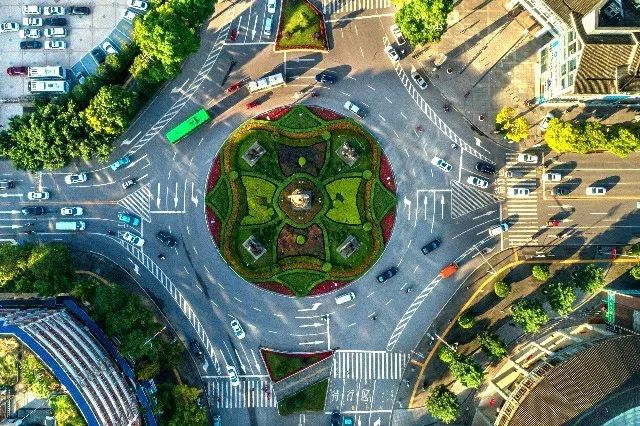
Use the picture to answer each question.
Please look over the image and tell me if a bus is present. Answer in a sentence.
Yes, this view includes a bus.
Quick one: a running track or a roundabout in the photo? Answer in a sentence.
It is a roundabout that can be seen here.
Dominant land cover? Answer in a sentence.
What you mostly see from above here is paved ground.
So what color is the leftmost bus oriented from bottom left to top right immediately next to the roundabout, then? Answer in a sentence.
The leftmost bus oriented from bottom left to top right immediately next to the roundabout looks green in the image.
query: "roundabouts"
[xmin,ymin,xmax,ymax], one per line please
[203,102,399,298]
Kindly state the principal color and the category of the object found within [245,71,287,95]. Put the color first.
white bus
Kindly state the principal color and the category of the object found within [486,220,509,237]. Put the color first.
white vehicle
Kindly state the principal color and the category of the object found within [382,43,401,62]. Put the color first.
white car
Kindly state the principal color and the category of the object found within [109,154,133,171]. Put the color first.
blue car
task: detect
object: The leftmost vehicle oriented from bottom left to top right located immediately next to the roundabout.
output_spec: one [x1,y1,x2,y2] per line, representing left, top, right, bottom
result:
[165,109,212,144]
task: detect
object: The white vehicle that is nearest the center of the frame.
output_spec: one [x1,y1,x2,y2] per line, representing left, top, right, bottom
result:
[334,291,356,305]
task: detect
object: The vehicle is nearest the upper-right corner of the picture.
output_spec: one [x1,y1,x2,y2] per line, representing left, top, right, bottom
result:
[539,111,555,134]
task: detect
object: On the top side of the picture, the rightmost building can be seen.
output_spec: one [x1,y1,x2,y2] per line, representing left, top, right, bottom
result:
[497,0,640,109]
